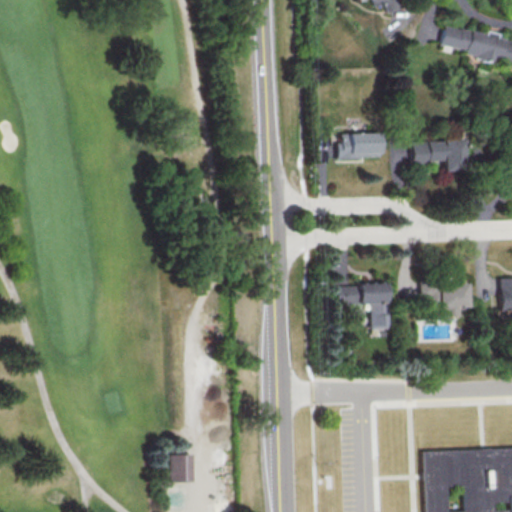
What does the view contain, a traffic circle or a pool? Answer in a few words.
pool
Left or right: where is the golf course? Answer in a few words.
left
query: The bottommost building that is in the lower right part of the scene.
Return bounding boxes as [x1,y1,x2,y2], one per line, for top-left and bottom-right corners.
[423,447,512,512]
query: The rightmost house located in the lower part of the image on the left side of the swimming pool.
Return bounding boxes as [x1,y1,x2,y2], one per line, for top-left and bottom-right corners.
[339,283,394,332]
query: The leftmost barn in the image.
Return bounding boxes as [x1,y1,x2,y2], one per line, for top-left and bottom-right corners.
[170,454,194,482]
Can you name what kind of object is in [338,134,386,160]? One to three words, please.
house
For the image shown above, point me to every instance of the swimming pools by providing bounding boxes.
[417,318,459,344]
